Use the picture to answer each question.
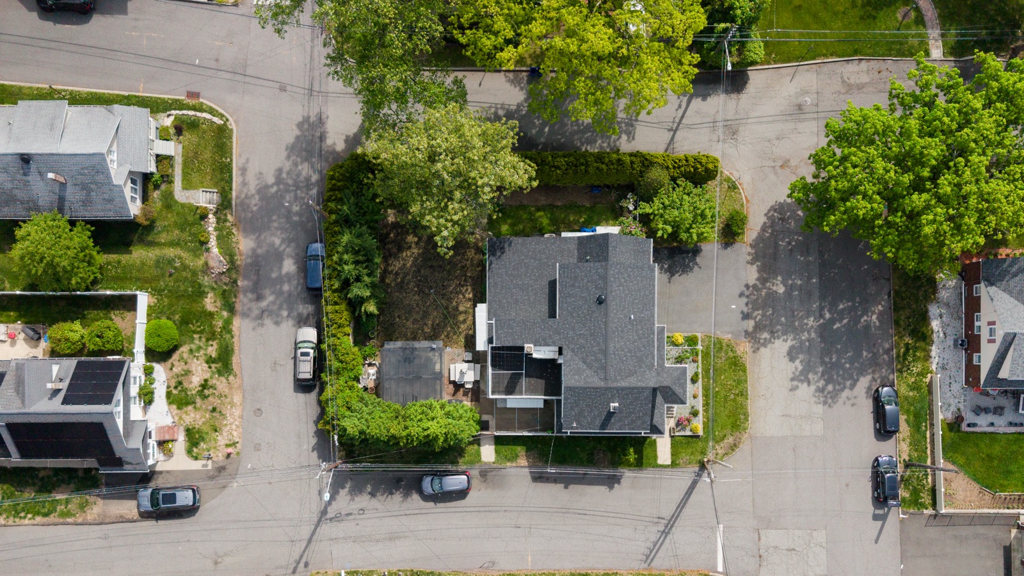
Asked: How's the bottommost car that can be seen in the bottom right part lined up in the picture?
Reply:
vertically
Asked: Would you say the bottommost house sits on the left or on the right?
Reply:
left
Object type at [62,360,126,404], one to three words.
solar panel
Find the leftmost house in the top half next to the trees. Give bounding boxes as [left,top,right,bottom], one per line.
[0,100,174,220]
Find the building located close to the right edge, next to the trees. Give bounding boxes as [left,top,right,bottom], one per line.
[965,259,1024,390]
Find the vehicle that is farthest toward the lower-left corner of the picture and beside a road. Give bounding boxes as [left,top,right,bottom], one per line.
[138,487,200,516]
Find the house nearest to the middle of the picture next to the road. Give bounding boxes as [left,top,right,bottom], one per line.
[475,227,689,437]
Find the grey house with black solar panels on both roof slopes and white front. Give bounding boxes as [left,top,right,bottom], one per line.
[0,358,163,473]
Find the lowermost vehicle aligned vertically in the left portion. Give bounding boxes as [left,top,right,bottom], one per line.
[293,328,320,385]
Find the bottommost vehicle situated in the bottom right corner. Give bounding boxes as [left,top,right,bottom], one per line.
[874,455,904,516]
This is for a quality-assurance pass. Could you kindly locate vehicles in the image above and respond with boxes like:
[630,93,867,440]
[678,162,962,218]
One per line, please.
[874,385,903,437]
[874,455,904,516]
[293,328,320,385]
[421,470,473,497]
[301,242,326,293]
[138,487,200,516]
[33,0,91,13]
